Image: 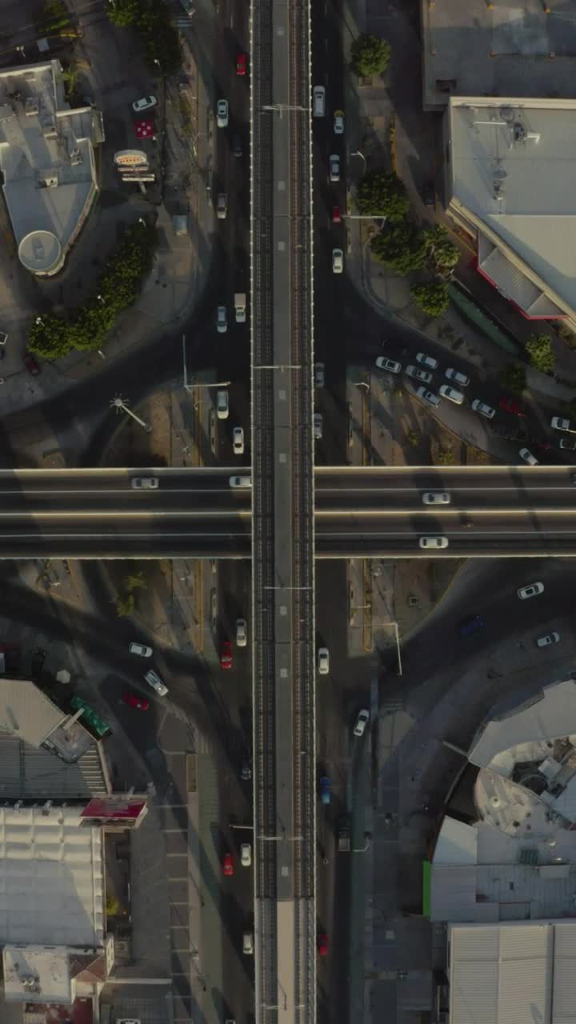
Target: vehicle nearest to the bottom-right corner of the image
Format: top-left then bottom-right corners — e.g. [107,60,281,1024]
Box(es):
[317,933,329,955]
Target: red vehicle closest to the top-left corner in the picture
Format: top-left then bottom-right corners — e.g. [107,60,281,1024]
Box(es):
[235,52,248,77]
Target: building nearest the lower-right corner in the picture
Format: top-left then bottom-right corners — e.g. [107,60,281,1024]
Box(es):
[442,920,576,1024]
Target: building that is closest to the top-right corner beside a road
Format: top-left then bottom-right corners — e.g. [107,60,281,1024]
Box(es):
[419,0,576,124]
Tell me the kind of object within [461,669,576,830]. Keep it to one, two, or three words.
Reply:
building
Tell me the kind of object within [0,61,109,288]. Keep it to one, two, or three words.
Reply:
building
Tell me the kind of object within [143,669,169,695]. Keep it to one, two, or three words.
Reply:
truck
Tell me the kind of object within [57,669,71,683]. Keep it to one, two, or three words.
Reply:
umbrella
